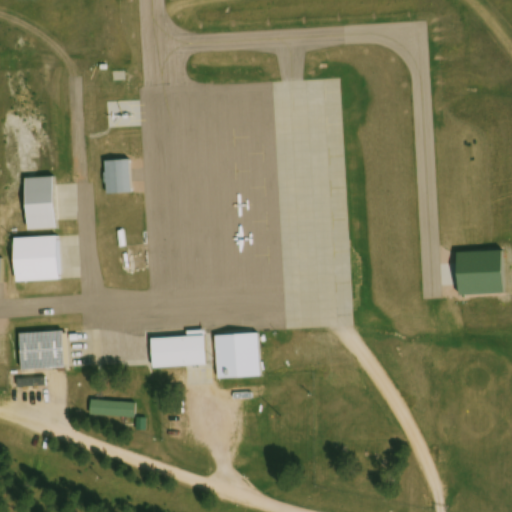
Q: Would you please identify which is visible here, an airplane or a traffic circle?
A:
airplane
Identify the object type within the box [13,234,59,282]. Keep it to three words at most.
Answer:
hangar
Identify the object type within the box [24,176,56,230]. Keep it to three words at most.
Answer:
hangar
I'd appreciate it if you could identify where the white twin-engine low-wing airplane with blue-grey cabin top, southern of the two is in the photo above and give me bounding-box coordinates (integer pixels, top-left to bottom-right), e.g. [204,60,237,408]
[232,224,253,252]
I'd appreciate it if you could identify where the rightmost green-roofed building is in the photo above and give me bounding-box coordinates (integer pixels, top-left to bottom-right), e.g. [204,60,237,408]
[456,249,504,296]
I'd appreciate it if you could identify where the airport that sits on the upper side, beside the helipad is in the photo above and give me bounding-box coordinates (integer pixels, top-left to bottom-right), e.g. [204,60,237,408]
[141,0,442,329]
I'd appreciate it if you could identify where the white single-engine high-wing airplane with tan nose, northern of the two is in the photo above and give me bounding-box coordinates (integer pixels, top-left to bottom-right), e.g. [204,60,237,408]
[233,193,250,218]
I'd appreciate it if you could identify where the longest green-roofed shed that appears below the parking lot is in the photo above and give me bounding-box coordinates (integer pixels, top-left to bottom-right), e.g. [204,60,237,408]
[89,398,136,418]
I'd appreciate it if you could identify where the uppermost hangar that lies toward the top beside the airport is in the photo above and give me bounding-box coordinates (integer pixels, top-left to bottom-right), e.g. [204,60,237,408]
[104,159,133,194]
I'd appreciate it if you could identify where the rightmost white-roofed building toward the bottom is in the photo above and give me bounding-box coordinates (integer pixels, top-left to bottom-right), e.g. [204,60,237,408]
[214,332,262,380]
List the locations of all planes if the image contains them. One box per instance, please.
[232,224,253,252]
[233,193,250,218]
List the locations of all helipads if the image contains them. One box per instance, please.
[107,100,144,128]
